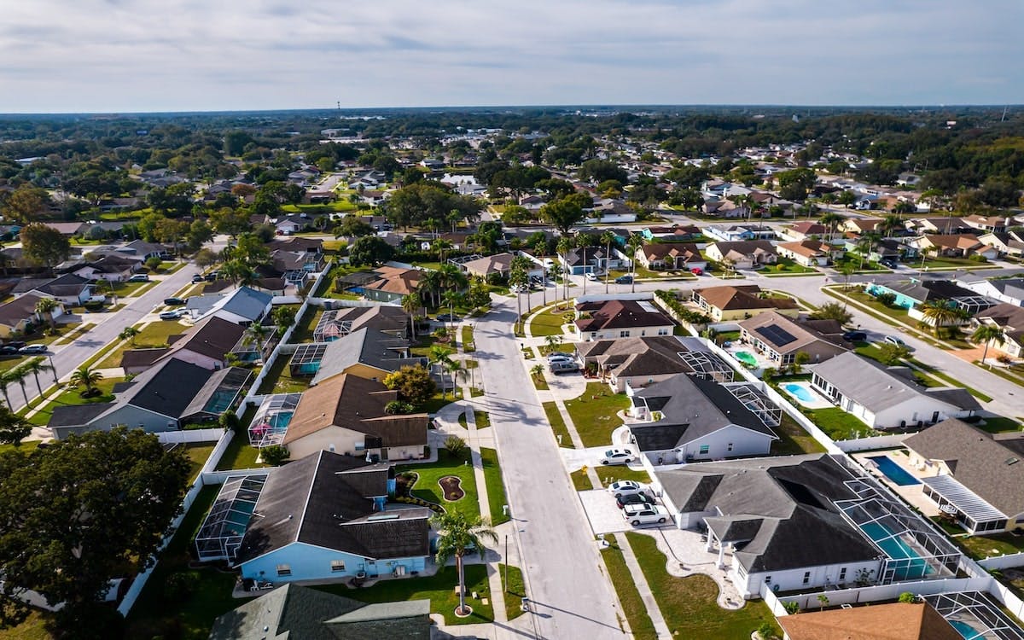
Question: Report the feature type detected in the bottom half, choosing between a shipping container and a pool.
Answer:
pool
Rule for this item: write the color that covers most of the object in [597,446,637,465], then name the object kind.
white car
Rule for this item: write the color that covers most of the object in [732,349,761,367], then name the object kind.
green swimming pool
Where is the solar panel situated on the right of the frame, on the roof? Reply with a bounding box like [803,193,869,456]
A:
[759,321,798,342]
